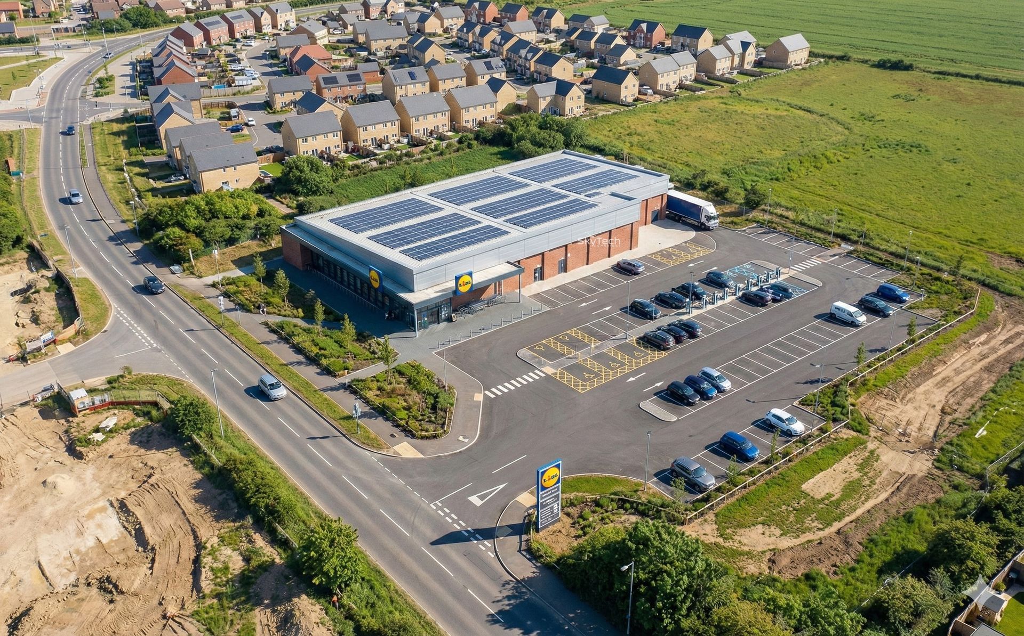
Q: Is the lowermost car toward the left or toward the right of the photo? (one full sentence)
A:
The lowermost car sits on the right side.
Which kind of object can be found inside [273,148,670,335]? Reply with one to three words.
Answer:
building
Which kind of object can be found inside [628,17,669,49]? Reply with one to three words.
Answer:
house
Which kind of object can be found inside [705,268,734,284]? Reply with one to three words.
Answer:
car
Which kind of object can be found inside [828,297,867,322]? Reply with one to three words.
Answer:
vehicle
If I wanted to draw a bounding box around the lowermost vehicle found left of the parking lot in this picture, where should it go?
[258,371,285,397]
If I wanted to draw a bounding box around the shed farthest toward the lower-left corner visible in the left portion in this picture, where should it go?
[63,392,93,419]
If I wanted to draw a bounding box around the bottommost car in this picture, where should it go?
[670,454,715,487]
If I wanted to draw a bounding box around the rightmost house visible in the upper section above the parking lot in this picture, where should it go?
[759,29,812,69]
